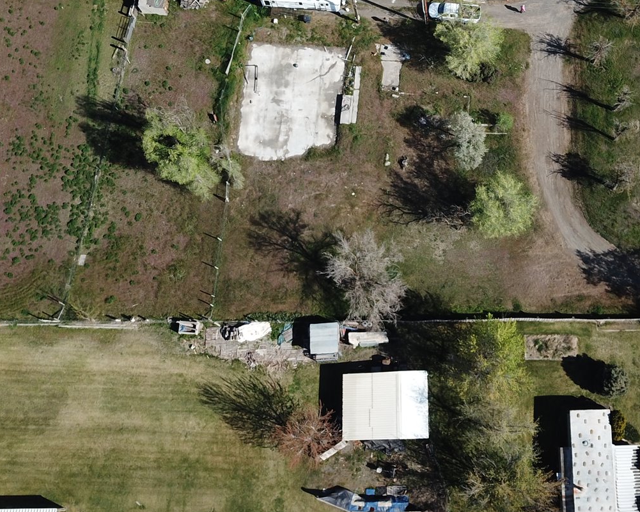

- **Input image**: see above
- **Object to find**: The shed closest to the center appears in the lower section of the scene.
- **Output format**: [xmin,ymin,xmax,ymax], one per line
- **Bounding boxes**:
[309,323,340,355]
